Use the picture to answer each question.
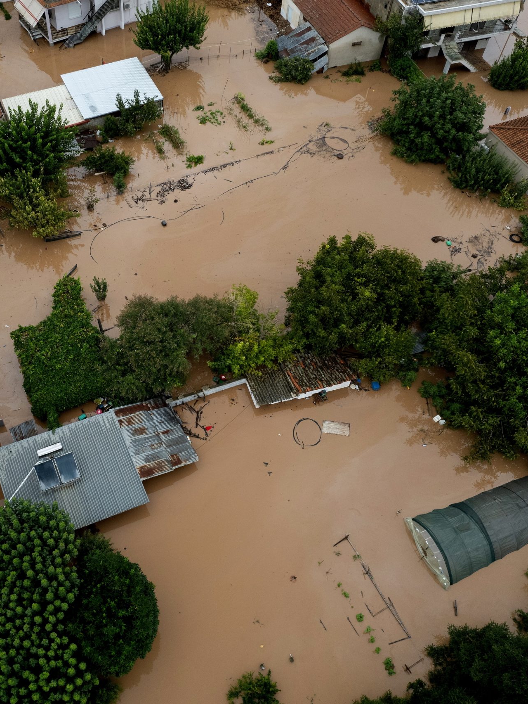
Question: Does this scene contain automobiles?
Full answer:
No, no automobile is visible in the view.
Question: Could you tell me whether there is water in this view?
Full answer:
Yes, there is water in the image.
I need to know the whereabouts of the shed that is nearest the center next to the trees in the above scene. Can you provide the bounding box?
[244,350,354,410]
